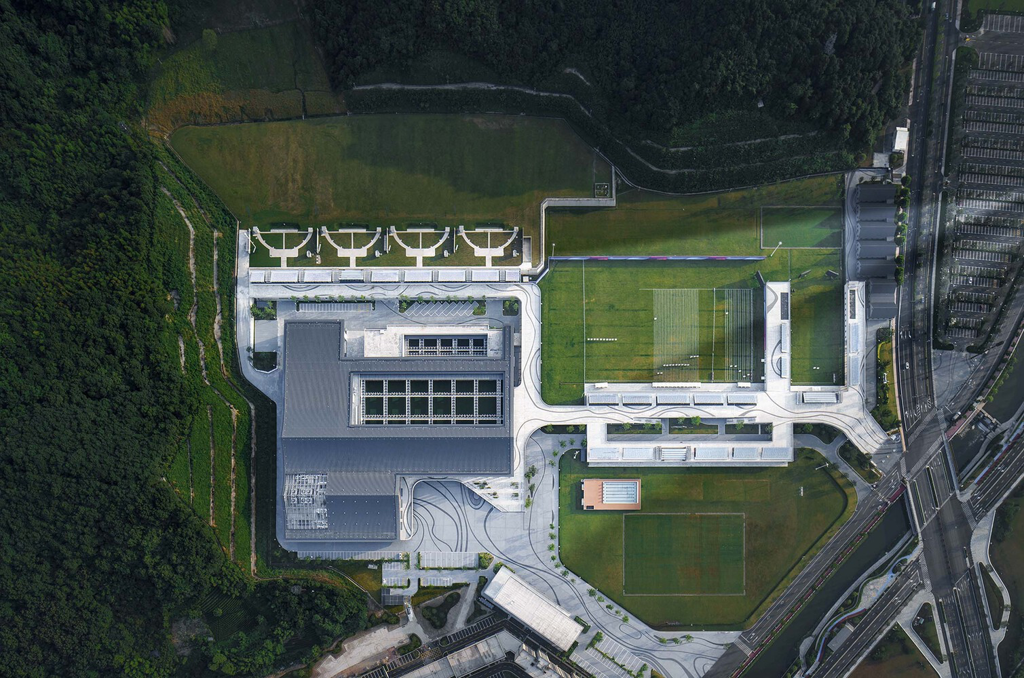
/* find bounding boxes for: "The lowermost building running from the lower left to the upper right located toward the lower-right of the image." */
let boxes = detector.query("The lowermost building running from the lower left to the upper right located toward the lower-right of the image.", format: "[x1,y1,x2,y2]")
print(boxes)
[825,623,854,652]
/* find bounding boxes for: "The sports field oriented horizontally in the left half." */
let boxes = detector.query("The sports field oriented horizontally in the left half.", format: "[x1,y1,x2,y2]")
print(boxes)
[171,112,613,266]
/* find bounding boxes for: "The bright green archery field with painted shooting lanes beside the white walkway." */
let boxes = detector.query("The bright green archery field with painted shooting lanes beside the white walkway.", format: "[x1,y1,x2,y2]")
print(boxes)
[542,173,845,403]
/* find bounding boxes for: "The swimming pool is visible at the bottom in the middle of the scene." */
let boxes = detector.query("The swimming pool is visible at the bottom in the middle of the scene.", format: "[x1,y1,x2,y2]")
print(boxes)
[581,479,641,510]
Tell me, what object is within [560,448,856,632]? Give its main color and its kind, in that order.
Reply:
green sports field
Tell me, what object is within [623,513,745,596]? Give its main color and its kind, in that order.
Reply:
green soccer field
